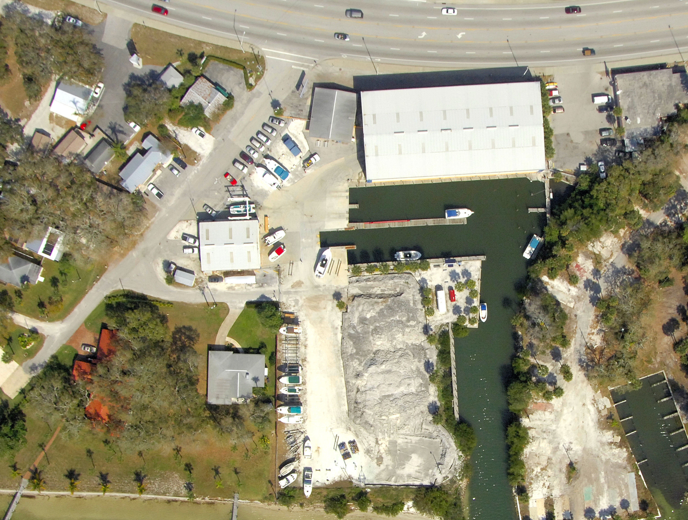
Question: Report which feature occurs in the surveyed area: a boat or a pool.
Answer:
boat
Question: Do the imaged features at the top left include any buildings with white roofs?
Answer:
Yes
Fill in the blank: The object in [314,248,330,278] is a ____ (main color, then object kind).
white boat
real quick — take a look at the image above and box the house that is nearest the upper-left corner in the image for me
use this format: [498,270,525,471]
[51,81,92,121]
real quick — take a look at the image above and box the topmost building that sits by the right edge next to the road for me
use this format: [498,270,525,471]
[615,69,688,151]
